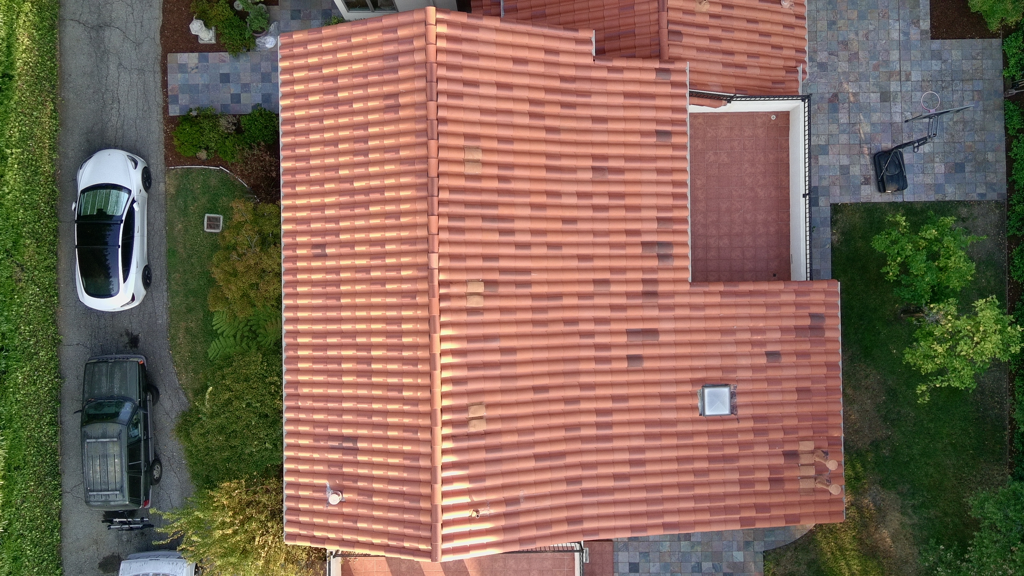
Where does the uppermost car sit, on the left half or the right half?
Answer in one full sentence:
It is on the left.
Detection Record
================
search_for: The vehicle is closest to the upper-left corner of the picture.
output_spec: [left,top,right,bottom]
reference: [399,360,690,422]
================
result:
[71,151,158,313]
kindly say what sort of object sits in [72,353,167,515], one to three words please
car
